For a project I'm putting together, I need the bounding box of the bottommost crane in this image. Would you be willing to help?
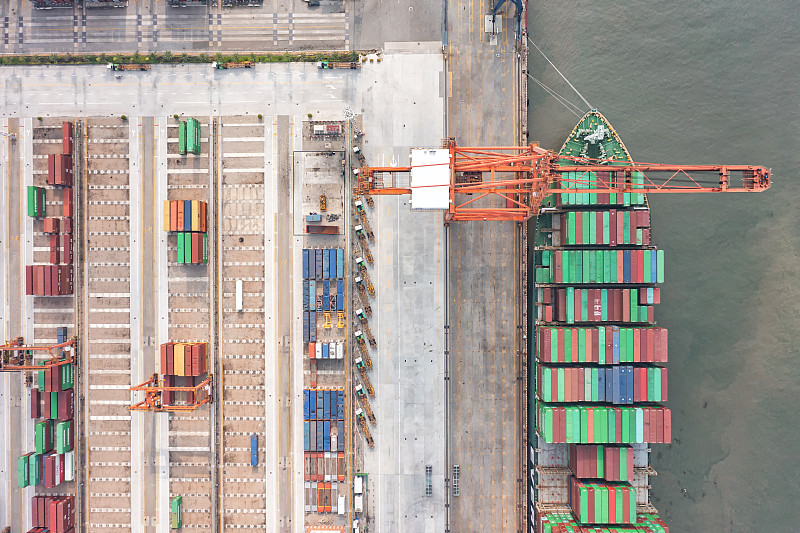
[134,372,212,413]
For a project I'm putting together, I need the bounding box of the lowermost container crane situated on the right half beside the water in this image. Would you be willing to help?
[355,138,777,234]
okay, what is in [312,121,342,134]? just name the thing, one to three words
building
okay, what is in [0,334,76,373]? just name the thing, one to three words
container crane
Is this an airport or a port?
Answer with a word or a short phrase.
port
